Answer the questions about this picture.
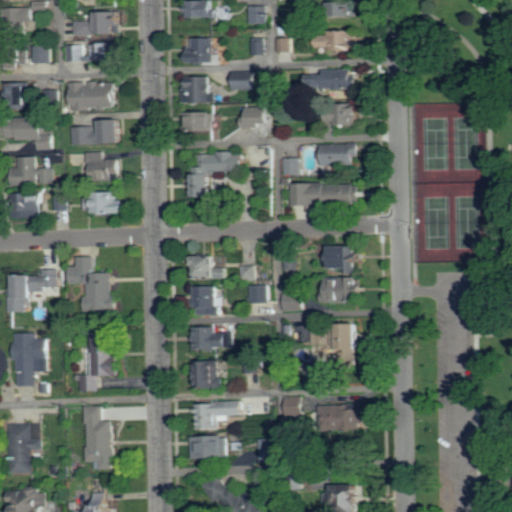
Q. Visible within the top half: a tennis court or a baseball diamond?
tennis court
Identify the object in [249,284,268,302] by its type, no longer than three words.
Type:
building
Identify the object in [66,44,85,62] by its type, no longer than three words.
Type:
building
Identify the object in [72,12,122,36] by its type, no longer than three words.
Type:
house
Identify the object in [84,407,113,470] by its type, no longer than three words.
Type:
house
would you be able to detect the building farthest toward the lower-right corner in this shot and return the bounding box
[322,484,360,512]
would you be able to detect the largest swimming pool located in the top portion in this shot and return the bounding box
[303,148,316,172]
